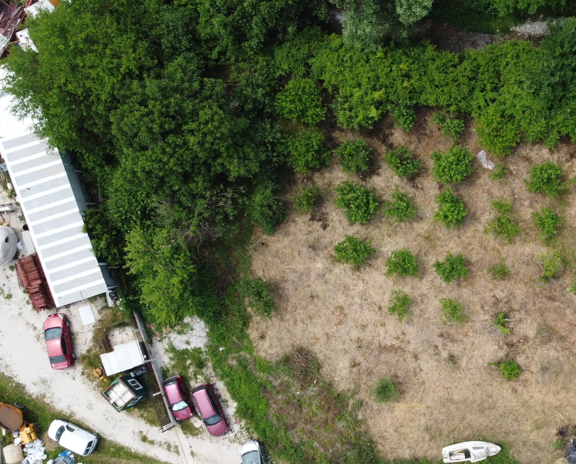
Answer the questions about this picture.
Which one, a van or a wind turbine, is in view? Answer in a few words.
van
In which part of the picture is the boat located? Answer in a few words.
bottom right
